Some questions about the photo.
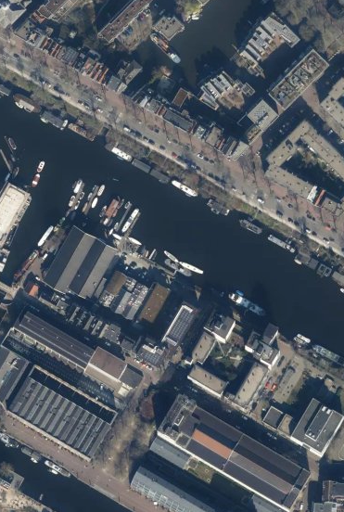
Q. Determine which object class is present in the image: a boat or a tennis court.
boat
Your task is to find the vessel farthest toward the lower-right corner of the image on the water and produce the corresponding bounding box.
[312,344,344,366]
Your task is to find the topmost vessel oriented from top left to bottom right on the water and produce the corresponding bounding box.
[155,39,183,65]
